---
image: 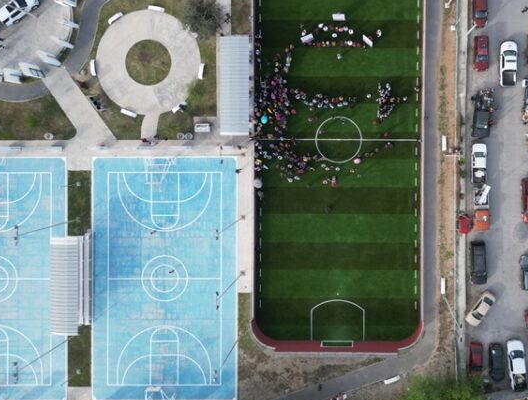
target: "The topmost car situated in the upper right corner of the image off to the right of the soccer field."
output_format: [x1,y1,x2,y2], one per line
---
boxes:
[471,0,489,28]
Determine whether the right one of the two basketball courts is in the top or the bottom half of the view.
bottom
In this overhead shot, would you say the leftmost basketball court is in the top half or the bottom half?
bottom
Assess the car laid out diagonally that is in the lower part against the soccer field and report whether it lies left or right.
to the right of it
